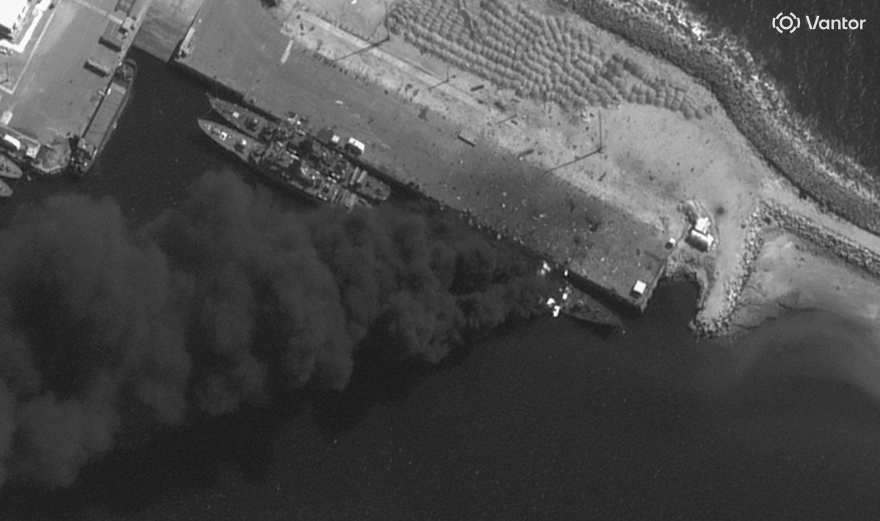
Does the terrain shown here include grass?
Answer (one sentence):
No, the picture contains no grass.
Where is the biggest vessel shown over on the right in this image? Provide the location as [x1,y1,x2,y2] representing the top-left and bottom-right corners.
[451,226,623,331]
